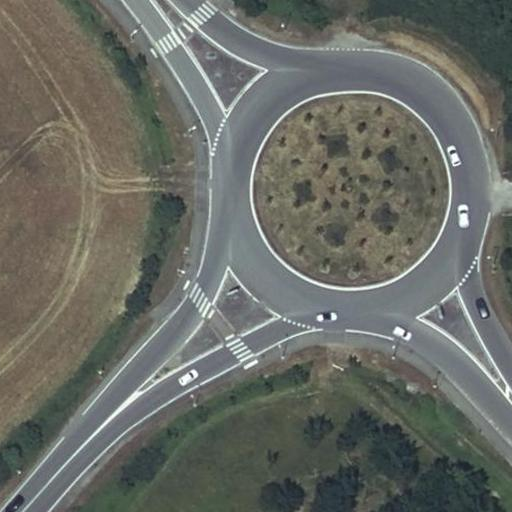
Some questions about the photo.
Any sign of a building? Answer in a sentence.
No, there is no building in the image.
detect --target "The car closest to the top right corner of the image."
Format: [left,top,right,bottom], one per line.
[448,145,462,166]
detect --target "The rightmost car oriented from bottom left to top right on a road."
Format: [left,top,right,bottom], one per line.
[178,368,199,386]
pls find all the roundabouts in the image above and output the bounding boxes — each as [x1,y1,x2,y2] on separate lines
[180,48,492,340]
